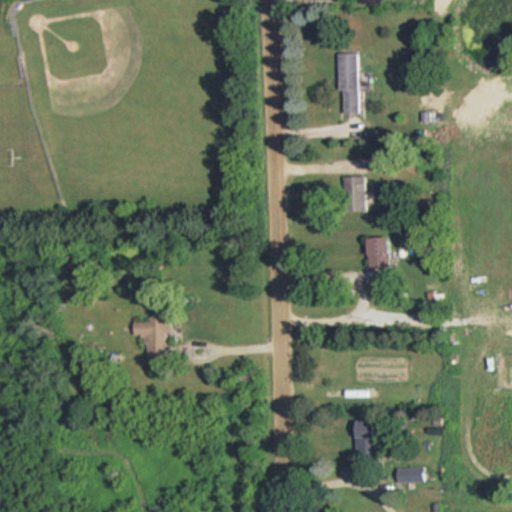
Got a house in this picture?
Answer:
Yes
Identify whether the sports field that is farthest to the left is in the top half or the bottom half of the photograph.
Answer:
top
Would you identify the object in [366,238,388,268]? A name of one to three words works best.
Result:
house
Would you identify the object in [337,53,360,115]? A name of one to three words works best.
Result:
house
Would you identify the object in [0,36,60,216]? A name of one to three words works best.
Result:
sports field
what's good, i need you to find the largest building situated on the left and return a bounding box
[131,318,171,353]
